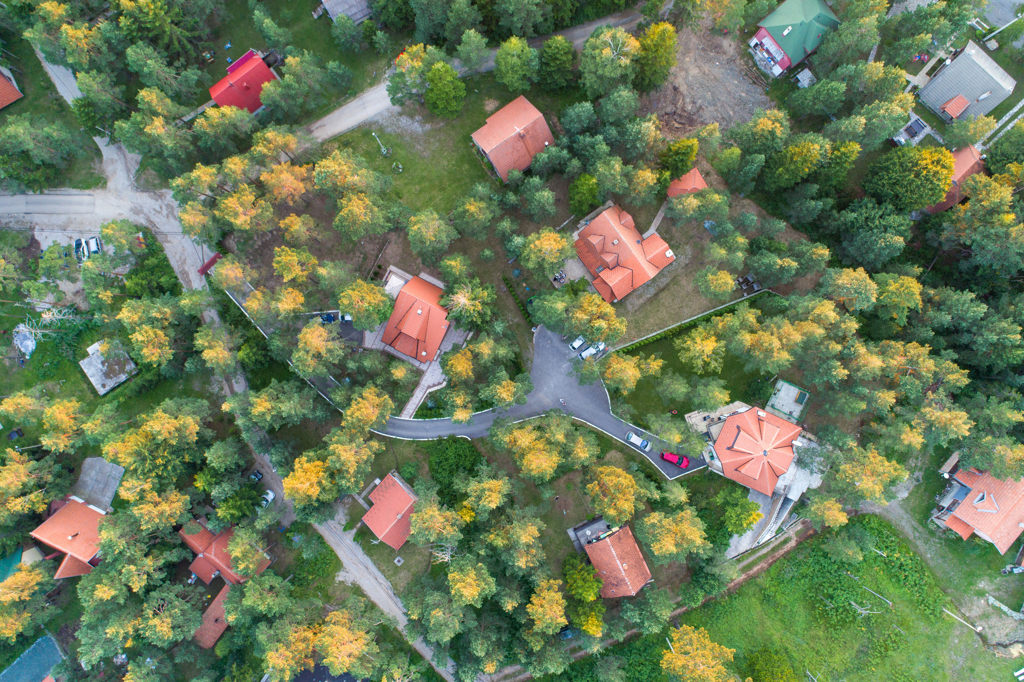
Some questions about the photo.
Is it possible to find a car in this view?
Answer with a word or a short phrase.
Yes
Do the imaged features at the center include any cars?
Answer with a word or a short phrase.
Yes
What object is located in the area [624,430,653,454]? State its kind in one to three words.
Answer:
car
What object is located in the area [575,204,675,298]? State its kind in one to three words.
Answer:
house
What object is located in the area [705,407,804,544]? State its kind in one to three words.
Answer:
house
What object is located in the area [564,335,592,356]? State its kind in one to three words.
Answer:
car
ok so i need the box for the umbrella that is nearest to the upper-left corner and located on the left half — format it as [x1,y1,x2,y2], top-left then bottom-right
[385,275,405,299]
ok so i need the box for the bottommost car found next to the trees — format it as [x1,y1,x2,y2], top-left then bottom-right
[552,625,582,647]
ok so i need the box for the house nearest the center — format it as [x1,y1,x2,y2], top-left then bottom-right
[382,276,453,363]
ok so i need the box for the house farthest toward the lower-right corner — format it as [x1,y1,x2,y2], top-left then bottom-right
[929,447,1024,555]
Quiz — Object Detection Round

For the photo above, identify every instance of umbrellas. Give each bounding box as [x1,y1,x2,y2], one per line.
[385,275,405,299]
[24,547,44,562]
